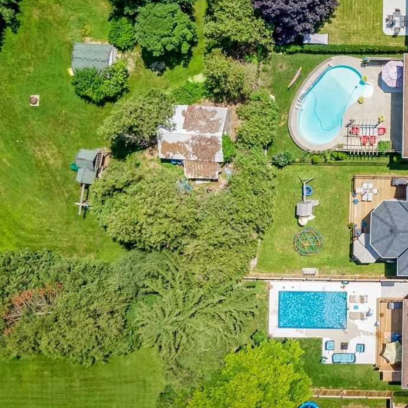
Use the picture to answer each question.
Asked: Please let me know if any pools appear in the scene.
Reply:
Yes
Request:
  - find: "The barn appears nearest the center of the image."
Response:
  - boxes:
[158,105,233,179]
